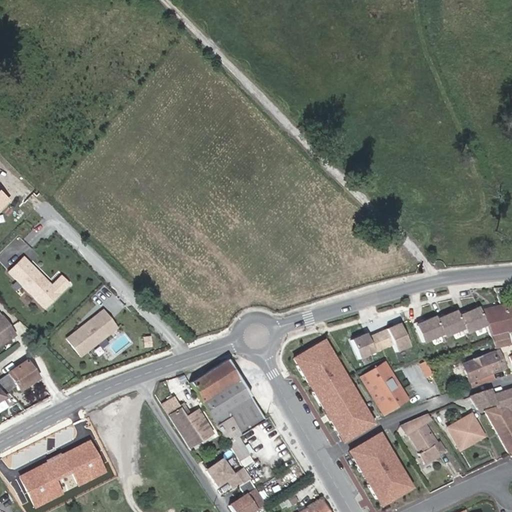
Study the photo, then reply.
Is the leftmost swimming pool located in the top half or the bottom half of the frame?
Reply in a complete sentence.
You can find the leftmost swimming pool in the bottom half.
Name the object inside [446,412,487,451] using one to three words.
house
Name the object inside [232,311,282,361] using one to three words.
roundabout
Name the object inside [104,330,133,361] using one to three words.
swimming pool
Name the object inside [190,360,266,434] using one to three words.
building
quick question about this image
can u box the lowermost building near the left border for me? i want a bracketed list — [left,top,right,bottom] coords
[18,438,107,509]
